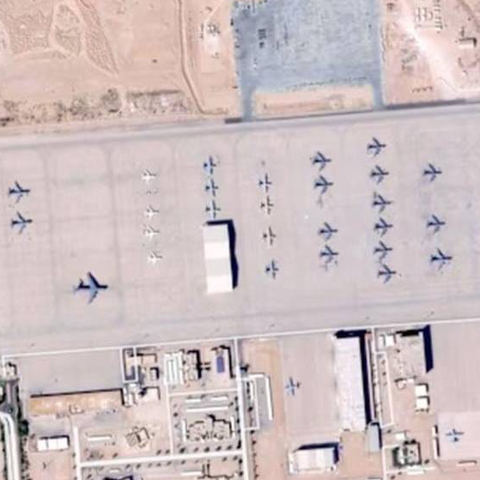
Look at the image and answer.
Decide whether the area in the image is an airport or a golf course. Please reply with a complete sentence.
This looks like an airport.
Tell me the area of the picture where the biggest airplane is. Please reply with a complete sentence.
The biggest airplane is located in the left region of the scene.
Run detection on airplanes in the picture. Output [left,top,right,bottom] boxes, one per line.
[373,218,391,236]
[204,202,218,219]
[9,214,30,234]
[369,165,387,184]
[73,275,104,304]
[257,176,271,193]
[373,242,390,260]
[422,164,440,183]
[376,265,394,282]
[5,183,28,203]
[319,246,336,264]
[145,228,158,239]
[366,139,384,156]
[144,207,157,219]
[425,216,443,234]
[428,249,450,271]
[201,158,215,175]
[372,195,390,213]
[318,223,335,241]
[310,152,329,171]
[259,198,272,216]
[443,428,462,442]
[261,229,274,246]
[142,172,155,184]
[203,180,216,198]
[312,176,331,194]
[147,253,160,264]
